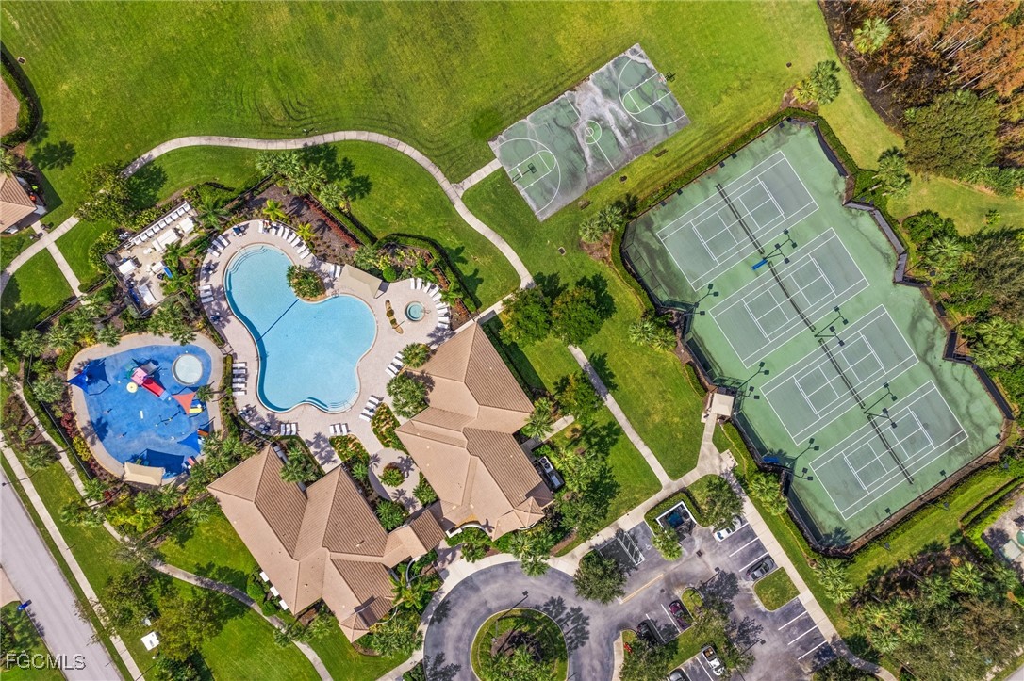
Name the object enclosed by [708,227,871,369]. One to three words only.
tennis court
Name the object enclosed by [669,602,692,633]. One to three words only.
car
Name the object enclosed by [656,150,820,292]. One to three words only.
tennis court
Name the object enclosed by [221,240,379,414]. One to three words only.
swimming pool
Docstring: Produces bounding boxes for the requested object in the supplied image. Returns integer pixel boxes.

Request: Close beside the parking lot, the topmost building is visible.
[394,322,553,541]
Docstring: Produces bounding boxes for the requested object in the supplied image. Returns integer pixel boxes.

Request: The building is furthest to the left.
[0,172,45,241]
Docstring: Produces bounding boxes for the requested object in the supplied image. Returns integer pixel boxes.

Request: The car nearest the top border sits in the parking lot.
[714,516,744,540]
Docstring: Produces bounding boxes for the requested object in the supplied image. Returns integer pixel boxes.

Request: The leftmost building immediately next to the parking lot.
[206,443,446,644]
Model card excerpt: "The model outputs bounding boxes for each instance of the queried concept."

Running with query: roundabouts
[470,607,569,681]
